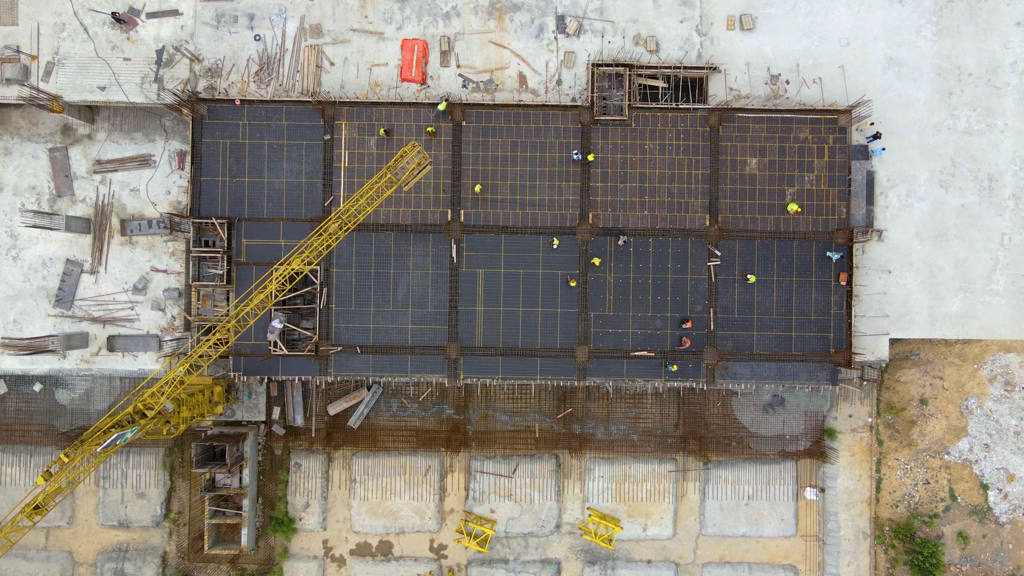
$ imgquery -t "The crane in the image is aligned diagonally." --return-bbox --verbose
[0,138,439,565]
